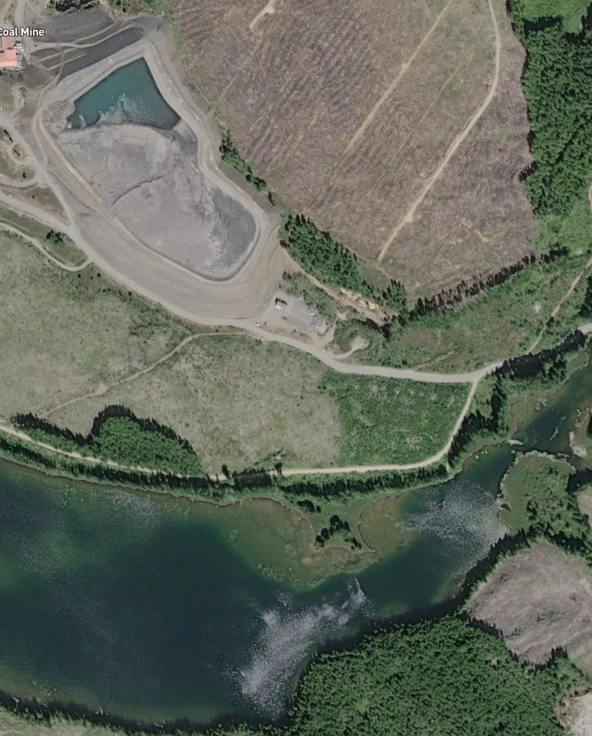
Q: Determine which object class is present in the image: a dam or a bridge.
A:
dam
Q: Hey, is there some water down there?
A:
Yes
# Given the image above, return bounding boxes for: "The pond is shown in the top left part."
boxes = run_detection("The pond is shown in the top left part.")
[68,56,181,130]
